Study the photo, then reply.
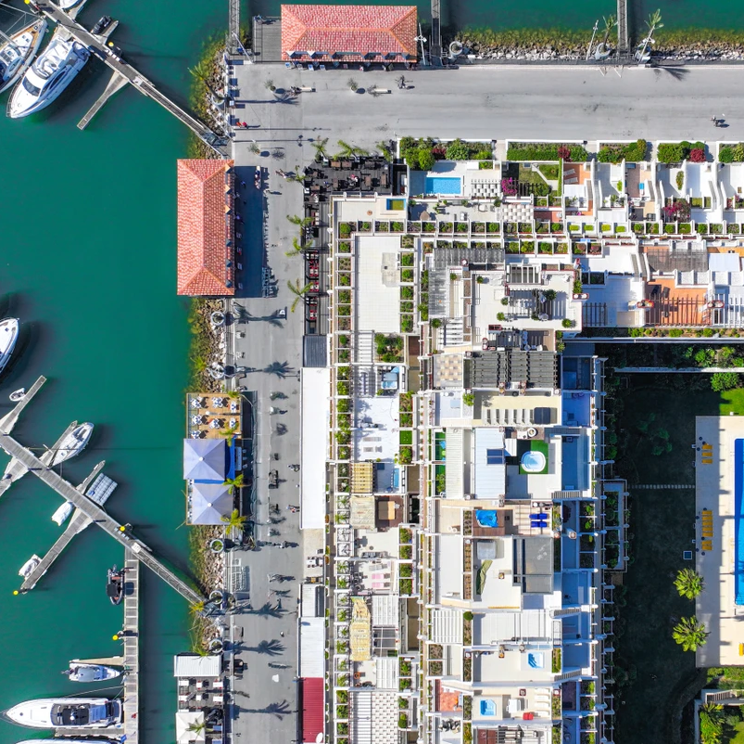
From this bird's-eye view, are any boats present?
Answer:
Yes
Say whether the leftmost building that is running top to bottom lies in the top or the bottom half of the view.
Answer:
top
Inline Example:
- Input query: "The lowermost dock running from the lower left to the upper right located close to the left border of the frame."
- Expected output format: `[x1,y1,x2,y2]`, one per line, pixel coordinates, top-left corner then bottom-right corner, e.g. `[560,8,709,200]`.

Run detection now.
[21,508,93,593]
